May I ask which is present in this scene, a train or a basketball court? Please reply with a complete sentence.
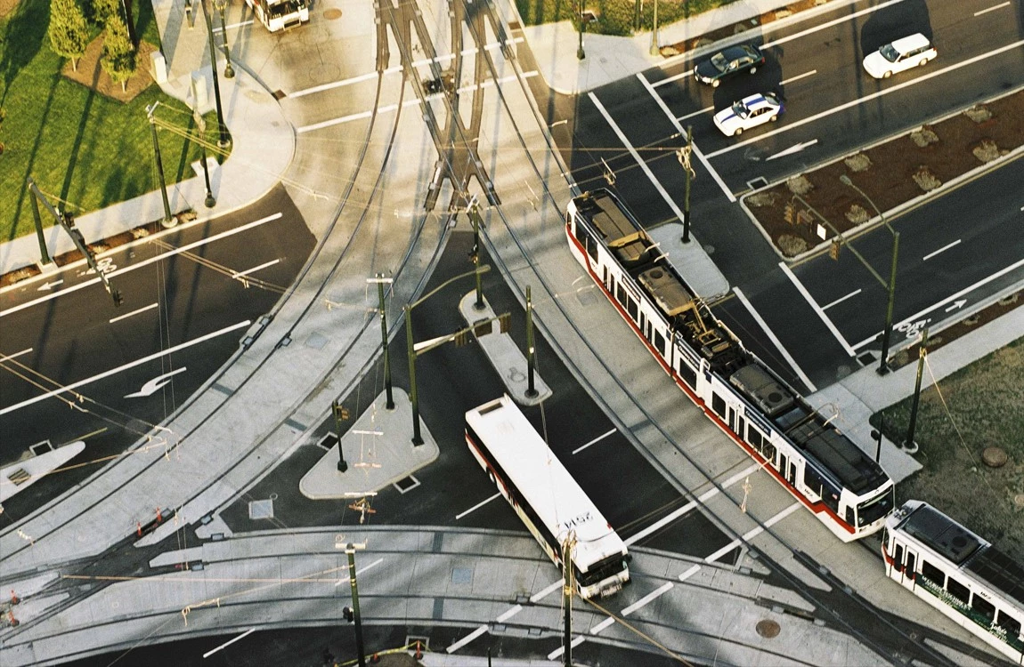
Looking from above, you can make out a train.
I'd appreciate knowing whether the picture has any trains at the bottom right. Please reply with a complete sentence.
Yes, there is a train at the bottom right.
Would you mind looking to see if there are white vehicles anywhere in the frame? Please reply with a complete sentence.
Yes, the frame does contain a white vehicle.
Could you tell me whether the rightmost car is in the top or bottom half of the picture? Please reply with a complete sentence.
It is in the top half that the rightmost car appears.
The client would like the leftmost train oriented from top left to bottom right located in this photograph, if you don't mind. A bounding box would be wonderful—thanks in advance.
[565,196,900,544]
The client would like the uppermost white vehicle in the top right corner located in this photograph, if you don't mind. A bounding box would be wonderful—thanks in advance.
[863,28,938,75]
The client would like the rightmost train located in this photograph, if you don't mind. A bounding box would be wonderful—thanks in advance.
[879,502,1024,659]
